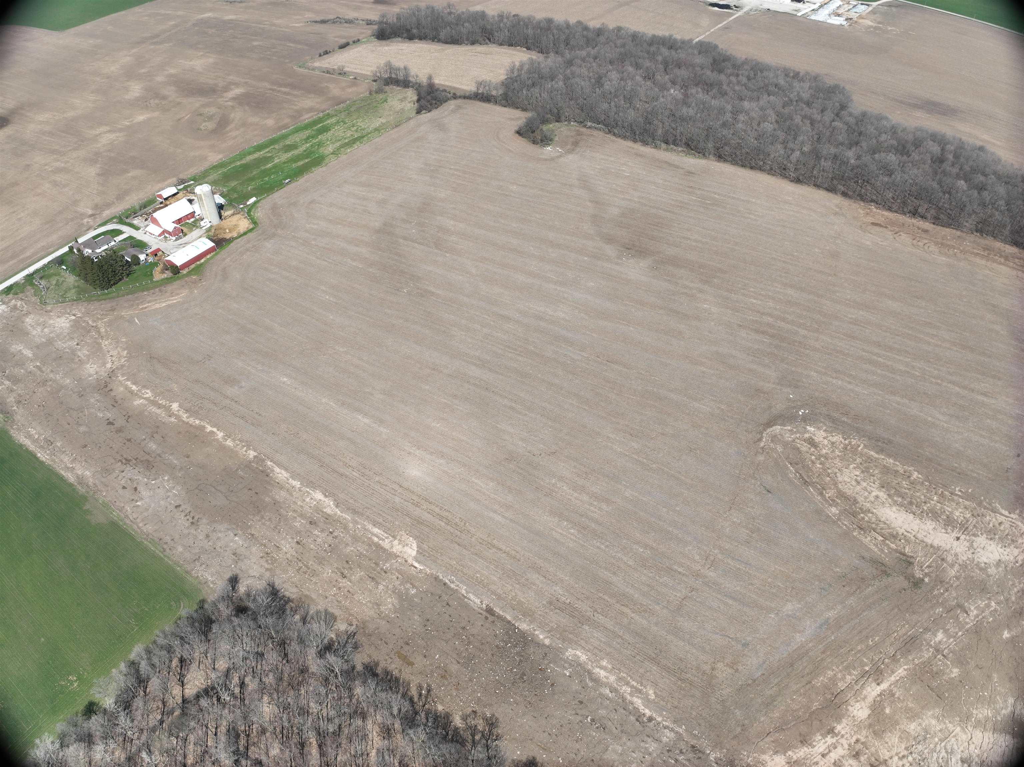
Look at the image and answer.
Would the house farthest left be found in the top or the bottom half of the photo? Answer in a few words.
top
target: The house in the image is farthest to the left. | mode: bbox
[61,234,116,265]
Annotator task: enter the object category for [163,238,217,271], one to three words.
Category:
shed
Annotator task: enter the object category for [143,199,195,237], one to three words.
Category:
barn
